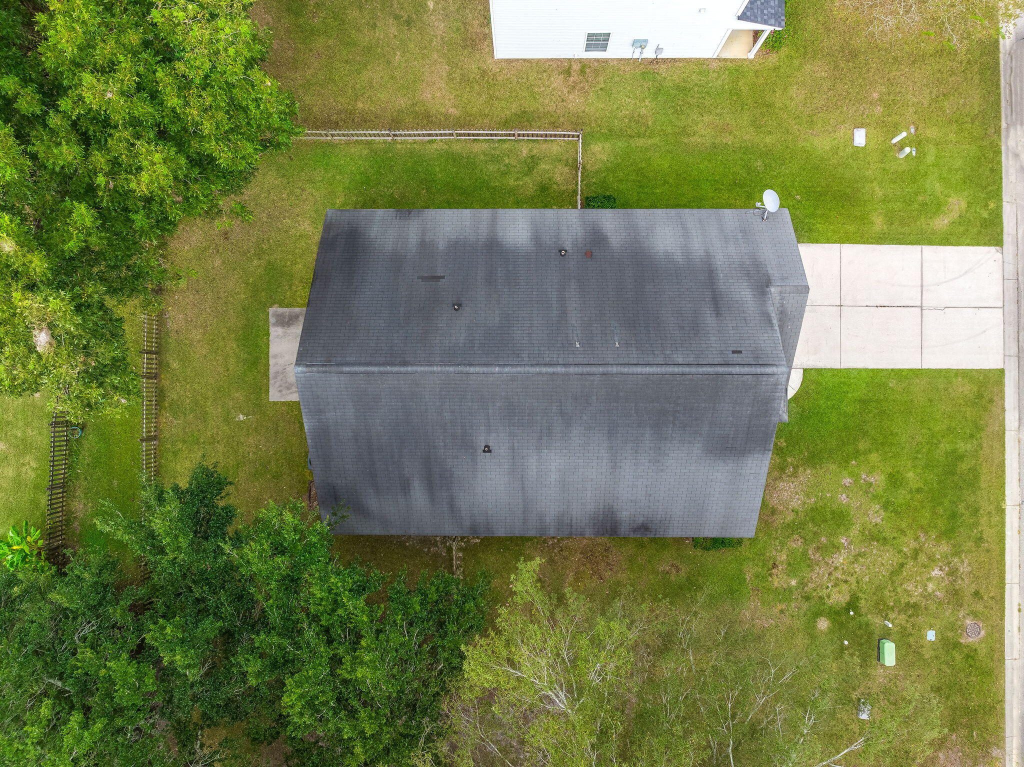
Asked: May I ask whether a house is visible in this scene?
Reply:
Yes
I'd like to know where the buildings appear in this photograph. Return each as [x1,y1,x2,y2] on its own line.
[296,207,811,538]
[490,0,785,59]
